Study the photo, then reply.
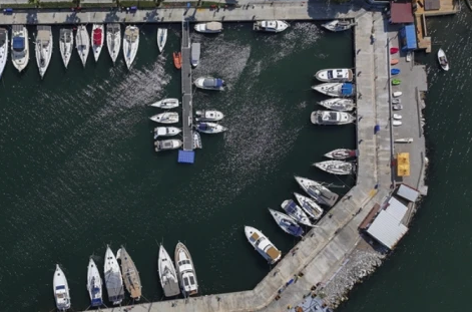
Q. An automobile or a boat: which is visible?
boat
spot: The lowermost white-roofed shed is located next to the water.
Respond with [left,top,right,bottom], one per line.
[362,210,408,250]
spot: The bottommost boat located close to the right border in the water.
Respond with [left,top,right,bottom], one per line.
[436,48,449,72]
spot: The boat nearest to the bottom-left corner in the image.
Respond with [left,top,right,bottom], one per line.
[52,266,70,312]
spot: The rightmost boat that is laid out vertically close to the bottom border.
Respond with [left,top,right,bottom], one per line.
[174,242,203,304]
